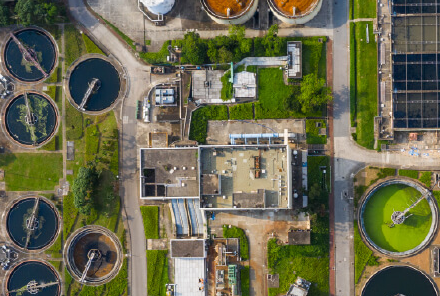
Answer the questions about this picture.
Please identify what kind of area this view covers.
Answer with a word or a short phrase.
industrial area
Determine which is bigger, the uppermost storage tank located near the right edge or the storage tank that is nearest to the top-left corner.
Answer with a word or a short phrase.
the uppermost storage tank located near the right edge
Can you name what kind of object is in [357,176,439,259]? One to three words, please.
storage tank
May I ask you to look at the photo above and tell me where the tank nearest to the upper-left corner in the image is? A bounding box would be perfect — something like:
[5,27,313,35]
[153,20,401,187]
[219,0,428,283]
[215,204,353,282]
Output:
[3,27,60,83]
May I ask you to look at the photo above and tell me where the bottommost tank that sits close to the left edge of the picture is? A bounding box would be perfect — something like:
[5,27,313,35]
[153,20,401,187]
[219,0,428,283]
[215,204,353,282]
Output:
[6,259,62,296]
